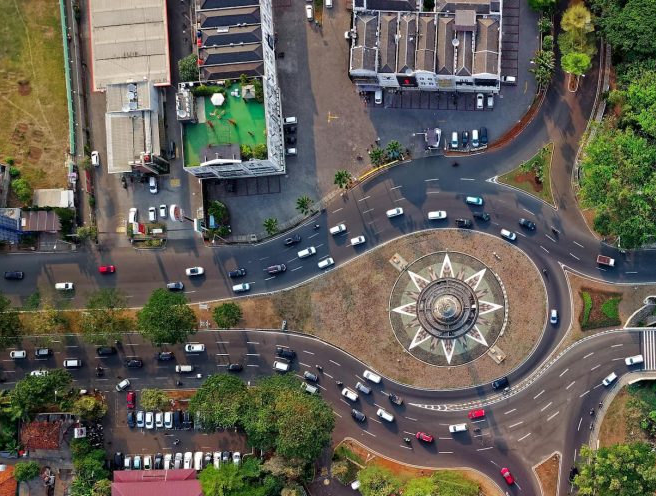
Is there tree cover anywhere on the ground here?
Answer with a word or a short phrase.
Yes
